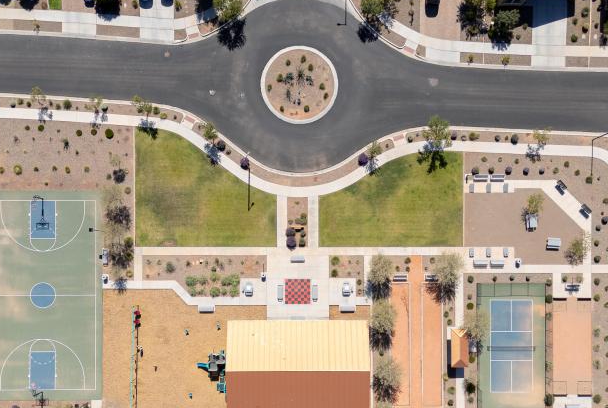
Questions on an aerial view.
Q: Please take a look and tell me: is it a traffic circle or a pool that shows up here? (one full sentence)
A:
This aerial view contains a traffic circle.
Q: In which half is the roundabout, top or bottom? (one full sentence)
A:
The roundabout sits in the top half of the picture.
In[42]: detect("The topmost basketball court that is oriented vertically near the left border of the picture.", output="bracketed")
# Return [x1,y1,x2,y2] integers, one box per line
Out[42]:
[0,190,102,401]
